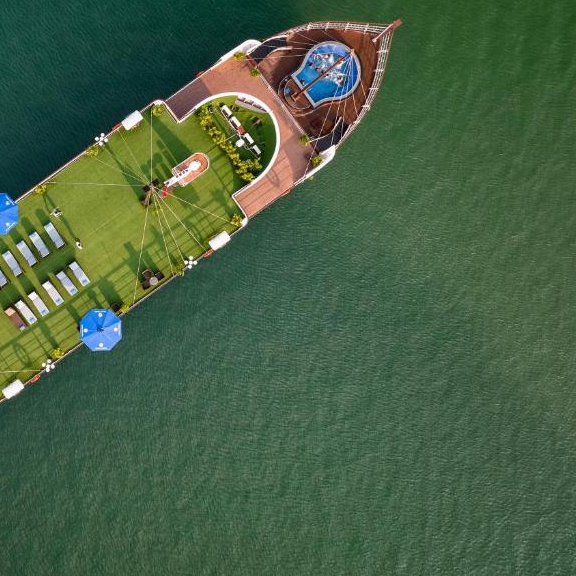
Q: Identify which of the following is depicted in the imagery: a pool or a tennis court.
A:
pool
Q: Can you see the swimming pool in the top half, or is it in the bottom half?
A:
top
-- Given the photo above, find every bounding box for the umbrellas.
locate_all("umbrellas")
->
[0,192,20,234]
[79,309,121,351]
